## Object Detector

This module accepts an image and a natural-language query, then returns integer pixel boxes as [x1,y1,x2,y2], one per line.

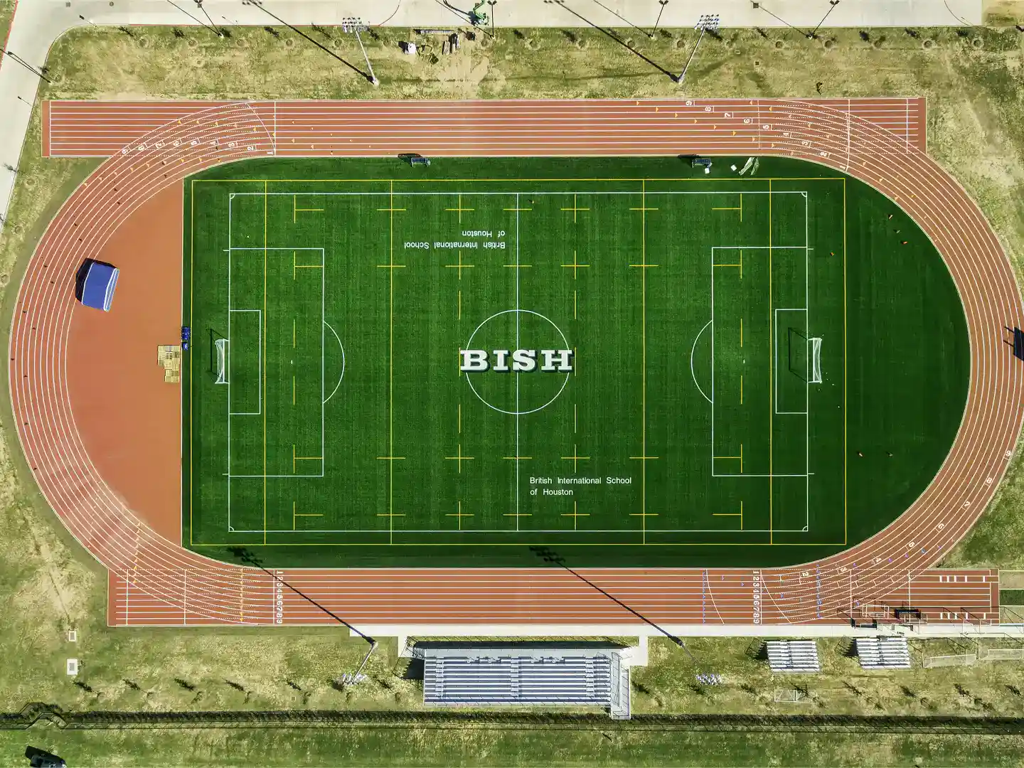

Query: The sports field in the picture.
[183,158,968,566]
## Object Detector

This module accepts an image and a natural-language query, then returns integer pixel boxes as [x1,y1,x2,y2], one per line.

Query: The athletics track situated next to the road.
[8,97,1024,627]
